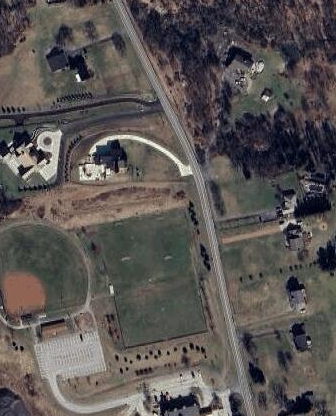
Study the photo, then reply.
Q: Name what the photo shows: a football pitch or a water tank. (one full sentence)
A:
Looking from above, you can make out a football pitch.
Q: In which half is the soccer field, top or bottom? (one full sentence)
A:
The bottom half of the photo is where the soccer field is.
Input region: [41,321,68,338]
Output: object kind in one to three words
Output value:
building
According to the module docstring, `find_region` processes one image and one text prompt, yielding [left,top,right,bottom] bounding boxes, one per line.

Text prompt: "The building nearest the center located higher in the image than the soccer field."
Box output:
[95,141,128,168]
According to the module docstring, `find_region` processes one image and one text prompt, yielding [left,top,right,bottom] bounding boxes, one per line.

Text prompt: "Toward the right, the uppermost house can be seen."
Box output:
[222,48,256,70]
